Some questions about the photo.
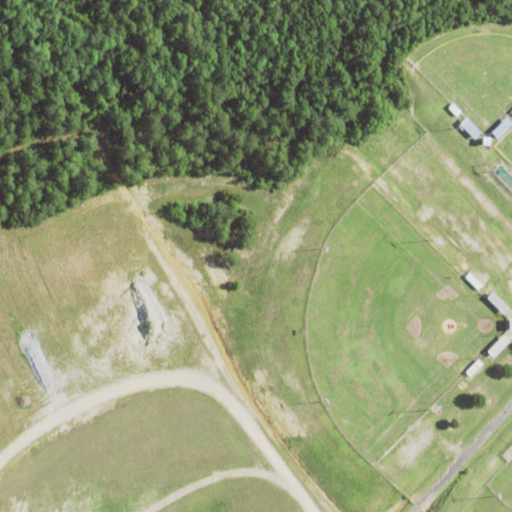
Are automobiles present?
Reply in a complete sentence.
No, the scene contains no automobile.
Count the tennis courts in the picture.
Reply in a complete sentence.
There are no tennis courts in the image.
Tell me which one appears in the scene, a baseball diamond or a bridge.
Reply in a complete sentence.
This aerial view contains a baseball diamond.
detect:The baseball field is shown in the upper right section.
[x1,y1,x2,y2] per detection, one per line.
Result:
[416,34,512,135]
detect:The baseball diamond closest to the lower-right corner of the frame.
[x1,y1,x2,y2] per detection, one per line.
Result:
[306,184,503,466]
